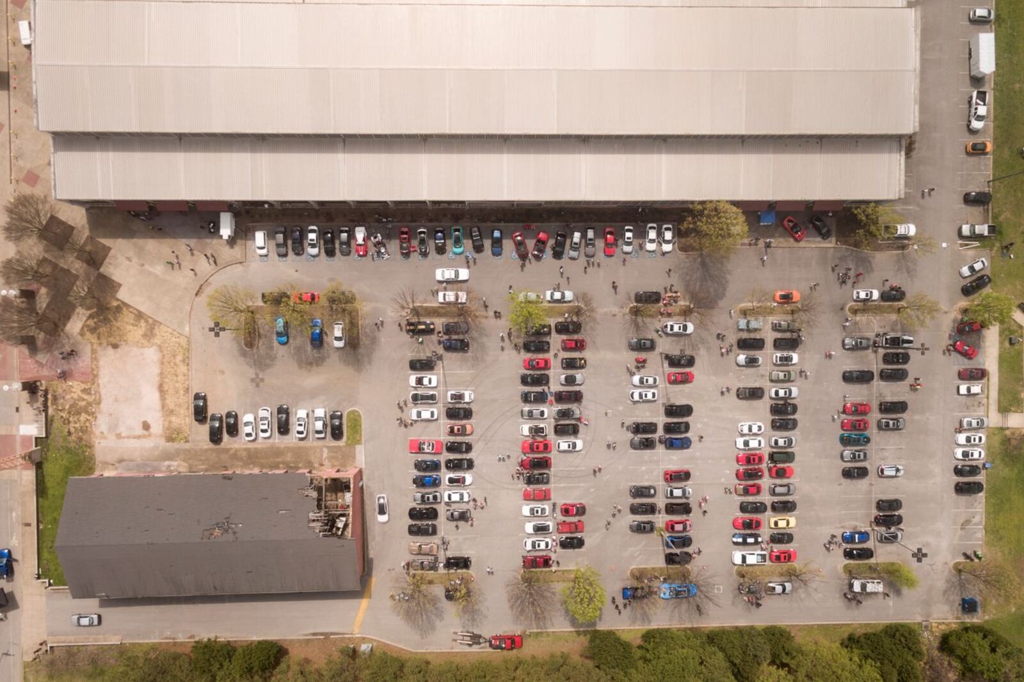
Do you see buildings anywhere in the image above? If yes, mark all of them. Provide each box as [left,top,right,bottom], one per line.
[34,0,919,213]
[56,465,365,596]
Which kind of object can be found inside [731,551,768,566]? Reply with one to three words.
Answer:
vehicle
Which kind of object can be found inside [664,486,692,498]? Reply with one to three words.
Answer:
vehicle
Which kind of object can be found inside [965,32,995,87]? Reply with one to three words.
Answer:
trailer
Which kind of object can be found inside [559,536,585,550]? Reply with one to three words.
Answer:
car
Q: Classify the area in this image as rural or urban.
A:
urban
